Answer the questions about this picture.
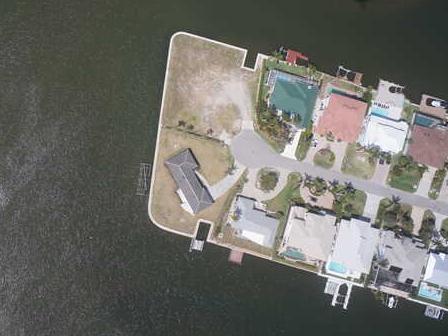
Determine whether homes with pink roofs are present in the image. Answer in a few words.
Yes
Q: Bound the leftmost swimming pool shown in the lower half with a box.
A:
[287,248,308,262]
